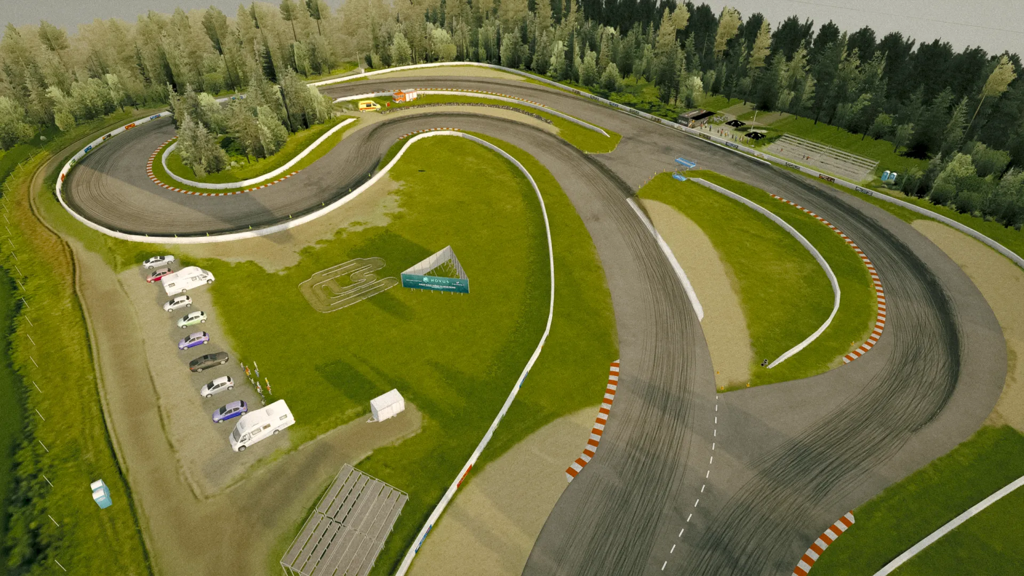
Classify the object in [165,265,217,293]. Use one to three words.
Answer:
camper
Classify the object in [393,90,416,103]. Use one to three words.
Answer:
vehicle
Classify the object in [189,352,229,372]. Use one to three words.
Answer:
car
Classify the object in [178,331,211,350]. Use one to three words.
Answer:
car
